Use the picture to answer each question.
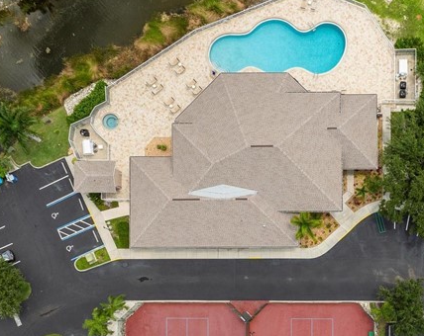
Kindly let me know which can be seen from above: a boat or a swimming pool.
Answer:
swimming pool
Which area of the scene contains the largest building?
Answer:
center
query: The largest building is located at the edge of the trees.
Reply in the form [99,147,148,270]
[130,72,377,248]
